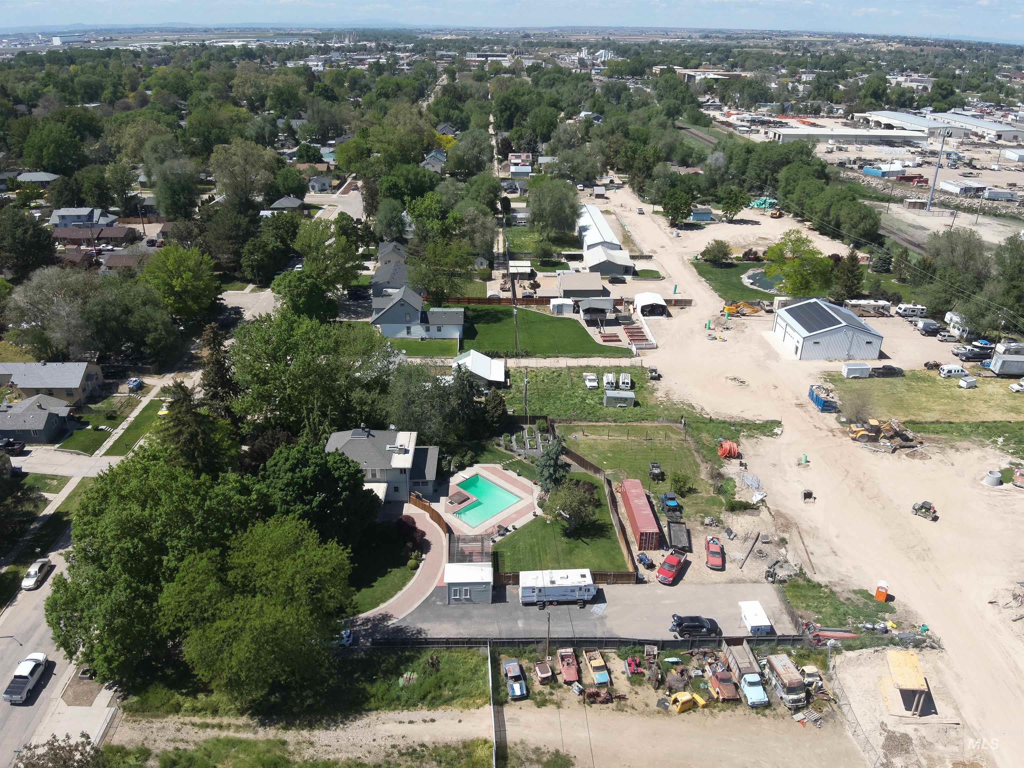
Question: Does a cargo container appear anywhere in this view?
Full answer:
Yes, the picture does show a cargo container.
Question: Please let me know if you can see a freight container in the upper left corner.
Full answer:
No, there's no freight container to be seen in the upper left corner.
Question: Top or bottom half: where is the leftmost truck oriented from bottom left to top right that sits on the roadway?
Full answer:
The leftmost truck oriented from bottom left to top right that sits on the roadway is in the bottom half of the image.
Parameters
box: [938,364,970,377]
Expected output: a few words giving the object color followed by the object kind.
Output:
white vehicle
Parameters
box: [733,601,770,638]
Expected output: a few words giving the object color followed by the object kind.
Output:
white trailer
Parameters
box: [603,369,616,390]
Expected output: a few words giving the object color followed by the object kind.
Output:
white vehicle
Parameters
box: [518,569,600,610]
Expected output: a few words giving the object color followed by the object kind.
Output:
white trailer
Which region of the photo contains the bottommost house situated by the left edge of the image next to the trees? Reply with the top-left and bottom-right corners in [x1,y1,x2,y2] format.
[0,401,91,443]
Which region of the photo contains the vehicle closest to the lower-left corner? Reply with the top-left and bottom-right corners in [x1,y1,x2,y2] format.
[1,653,51,705]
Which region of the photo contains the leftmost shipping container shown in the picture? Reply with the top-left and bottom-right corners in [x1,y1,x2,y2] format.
[620,479,659,547]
